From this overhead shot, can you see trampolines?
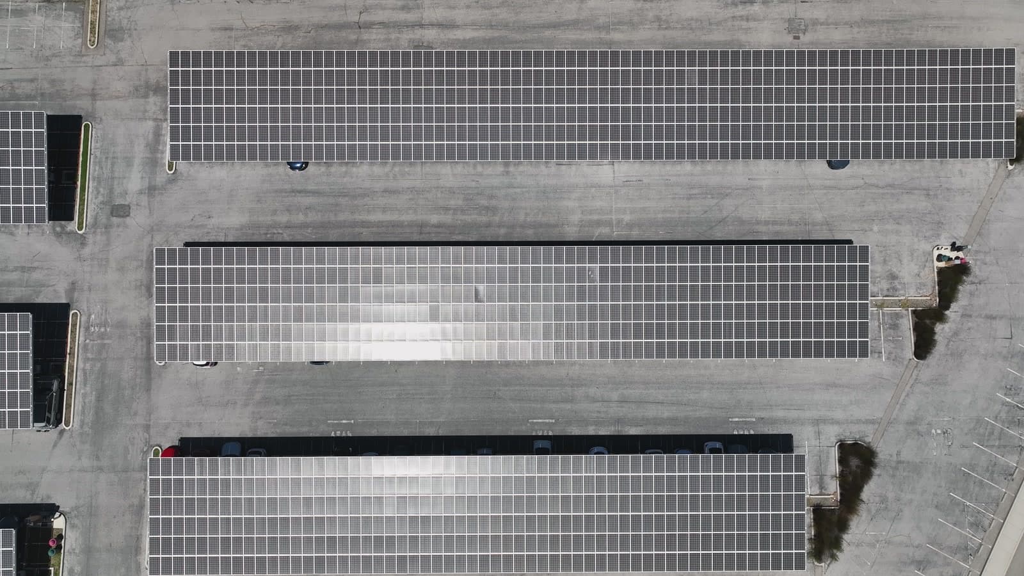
No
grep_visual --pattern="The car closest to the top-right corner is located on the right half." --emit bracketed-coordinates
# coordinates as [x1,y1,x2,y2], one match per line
[826,159,850,171]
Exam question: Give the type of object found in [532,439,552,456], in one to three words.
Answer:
car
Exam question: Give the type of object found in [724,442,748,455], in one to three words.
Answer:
vehicle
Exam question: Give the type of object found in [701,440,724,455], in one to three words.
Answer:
car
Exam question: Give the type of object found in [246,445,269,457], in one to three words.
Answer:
vehicle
